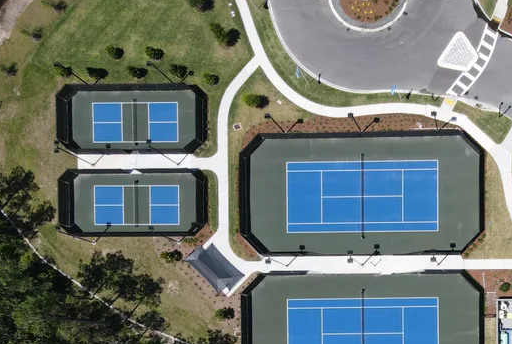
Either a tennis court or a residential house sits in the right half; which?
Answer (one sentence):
It is a tennis court that can be seen in the right half.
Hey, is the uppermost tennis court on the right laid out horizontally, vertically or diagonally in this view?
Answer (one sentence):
Seen from above, the uppermost tennis court on the right lies horizontally.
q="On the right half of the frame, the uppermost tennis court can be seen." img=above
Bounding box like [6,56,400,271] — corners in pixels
[245,139,479,256]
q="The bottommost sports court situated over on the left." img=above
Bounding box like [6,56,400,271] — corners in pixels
[68,174,194,234]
